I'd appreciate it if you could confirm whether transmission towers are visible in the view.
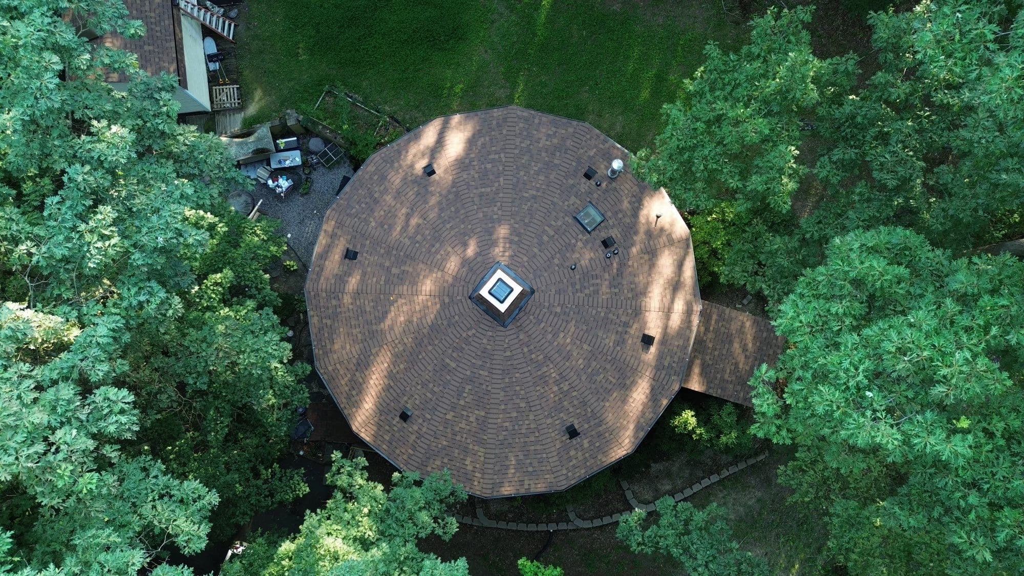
No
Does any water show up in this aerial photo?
No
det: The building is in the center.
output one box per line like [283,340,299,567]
[302,104,785,501]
